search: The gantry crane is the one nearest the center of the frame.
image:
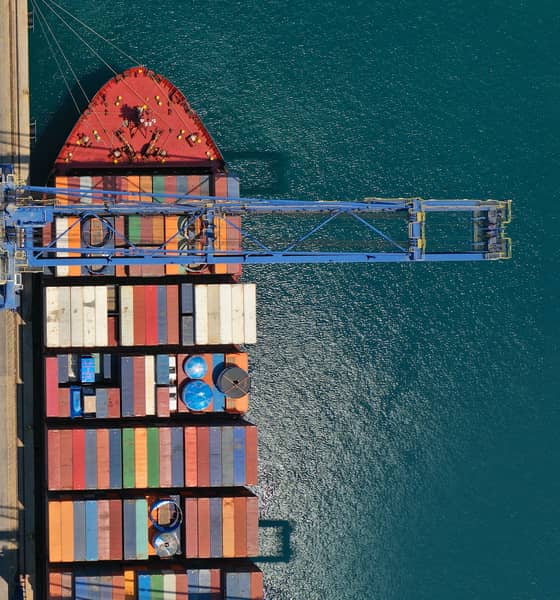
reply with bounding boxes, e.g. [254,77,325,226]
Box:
[0,158,511,320]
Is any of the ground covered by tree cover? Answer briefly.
No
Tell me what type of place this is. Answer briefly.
port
